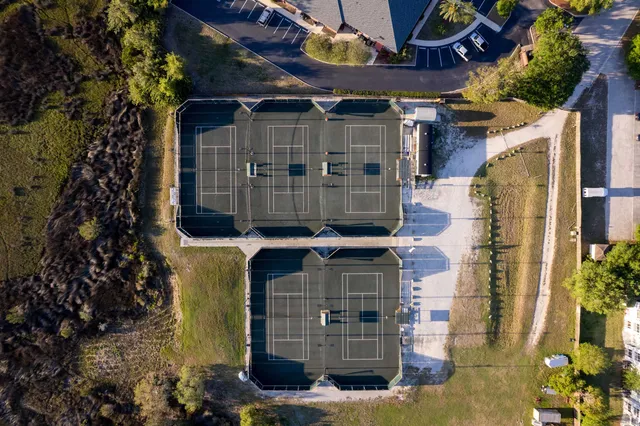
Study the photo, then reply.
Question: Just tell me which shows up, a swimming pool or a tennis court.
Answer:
tennis court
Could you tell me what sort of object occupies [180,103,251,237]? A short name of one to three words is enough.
tennis court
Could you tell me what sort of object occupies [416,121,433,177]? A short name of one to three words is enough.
building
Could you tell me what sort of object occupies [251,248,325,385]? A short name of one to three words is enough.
tennis court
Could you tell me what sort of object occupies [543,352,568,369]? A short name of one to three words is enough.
shed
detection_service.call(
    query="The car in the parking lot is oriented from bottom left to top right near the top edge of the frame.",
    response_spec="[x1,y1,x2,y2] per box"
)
[258,9,273,26]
